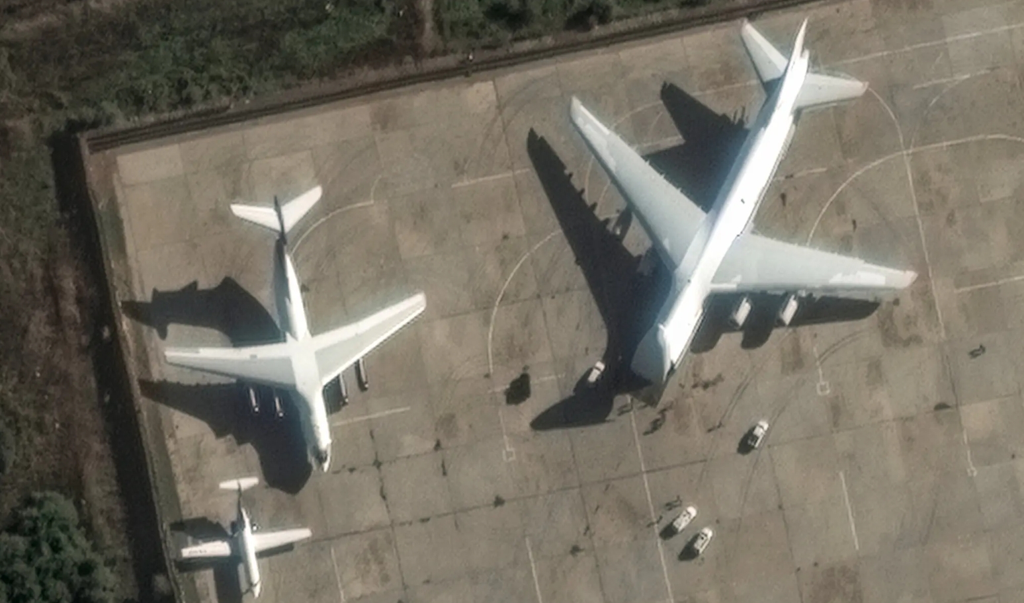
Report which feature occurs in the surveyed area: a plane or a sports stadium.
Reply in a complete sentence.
This aerial view contains a plane.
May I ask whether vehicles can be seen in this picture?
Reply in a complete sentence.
Yes, there is a vehicle in the image.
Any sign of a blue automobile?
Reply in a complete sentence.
No, this view has no blue automobile in it.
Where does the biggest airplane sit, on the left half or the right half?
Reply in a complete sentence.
It is on the right.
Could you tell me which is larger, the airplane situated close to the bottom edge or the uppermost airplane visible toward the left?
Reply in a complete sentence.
It is the uppermost airplane visible toward the left that is larger, not the airplane situated close to the bottom edge.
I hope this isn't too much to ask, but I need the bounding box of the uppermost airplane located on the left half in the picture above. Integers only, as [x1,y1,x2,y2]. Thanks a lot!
[164,184,425,470]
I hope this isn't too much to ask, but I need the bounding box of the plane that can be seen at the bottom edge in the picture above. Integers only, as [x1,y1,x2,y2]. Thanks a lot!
[184,478,313,597]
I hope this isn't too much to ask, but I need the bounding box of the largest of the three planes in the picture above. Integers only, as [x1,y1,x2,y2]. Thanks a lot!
[568,16,917,407]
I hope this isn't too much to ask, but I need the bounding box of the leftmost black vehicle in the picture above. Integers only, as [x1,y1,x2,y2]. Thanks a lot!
[516,372,530,402]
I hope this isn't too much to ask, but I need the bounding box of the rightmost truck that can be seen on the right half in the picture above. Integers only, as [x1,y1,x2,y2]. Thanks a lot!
[749,419,770,450]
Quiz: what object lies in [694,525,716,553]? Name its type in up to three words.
car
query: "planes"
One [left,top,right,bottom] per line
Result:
[568,16,917,407]
[184,478,313,597]
[164,184,425,470]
